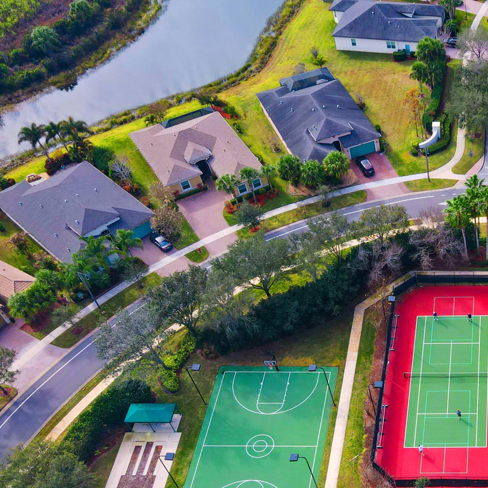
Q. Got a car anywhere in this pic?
Yes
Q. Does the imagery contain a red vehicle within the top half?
No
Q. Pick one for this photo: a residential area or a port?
residential area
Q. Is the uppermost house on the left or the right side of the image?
right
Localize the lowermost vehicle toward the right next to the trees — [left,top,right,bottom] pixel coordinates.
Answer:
[354,156,374,174]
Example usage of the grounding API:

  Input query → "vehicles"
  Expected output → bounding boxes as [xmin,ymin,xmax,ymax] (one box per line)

[354,156,374,174]
[445,34,465,45]
[148,230,173,250]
